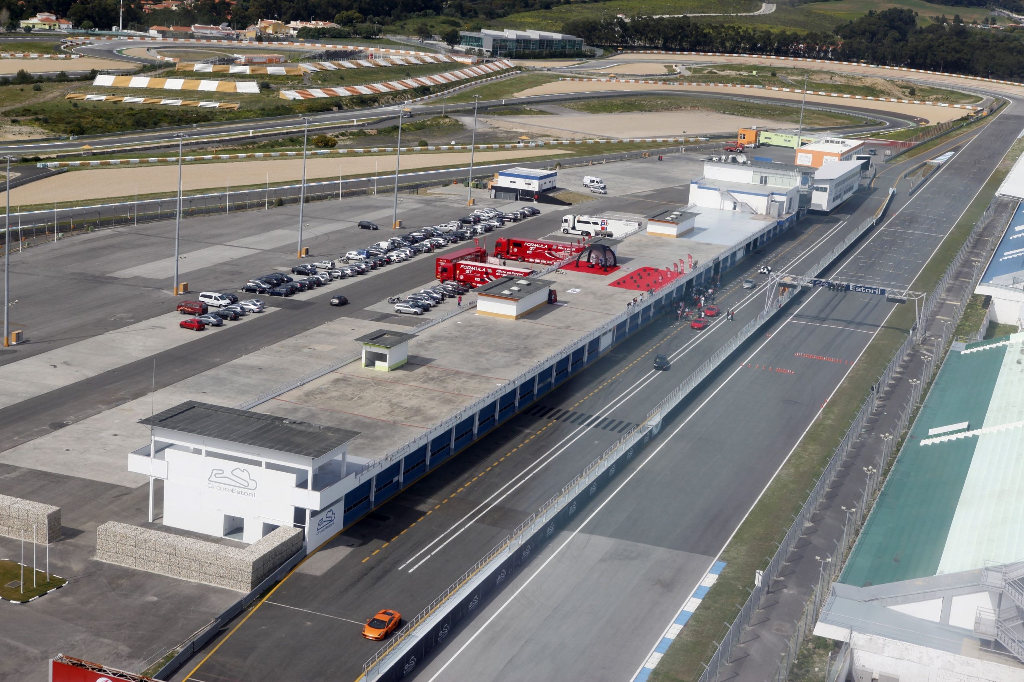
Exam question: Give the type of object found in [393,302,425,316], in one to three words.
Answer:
car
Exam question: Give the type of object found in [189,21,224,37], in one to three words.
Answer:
house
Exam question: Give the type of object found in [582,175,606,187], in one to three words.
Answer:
vehicle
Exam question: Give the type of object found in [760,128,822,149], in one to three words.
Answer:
building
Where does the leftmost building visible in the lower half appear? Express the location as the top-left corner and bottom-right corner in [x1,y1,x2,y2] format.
[128,400,375,555]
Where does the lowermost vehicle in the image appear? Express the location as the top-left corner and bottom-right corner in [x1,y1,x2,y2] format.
[361,610,402,641]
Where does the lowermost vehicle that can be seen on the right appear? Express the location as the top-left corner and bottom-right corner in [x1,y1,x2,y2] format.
[652,354,670,371]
